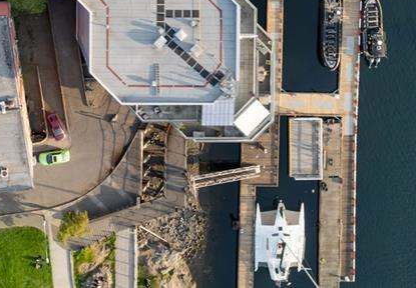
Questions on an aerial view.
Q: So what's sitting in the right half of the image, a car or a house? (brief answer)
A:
house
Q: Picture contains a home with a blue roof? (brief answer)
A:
No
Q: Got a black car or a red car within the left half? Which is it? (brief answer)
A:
red car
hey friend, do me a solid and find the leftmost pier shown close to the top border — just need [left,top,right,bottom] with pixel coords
[265,0,286,94]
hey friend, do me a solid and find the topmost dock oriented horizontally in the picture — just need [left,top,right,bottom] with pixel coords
[275,90,344,117]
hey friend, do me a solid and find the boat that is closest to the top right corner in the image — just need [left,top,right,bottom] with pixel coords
[361,0,386,65]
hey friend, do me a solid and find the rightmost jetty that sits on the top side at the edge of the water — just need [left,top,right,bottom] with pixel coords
[338,0,362,137]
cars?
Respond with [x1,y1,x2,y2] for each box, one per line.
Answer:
[47,110,66,141]
[37,147,71,164]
